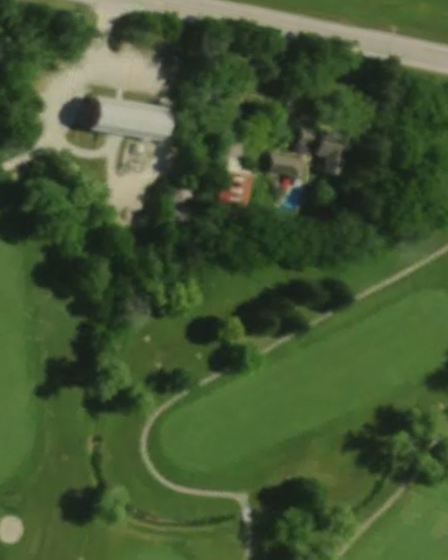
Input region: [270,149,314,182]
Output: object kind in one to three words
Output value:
house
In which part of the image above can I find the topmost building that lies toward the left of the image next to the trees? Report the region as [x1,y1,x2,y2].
[96,95,173,140]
